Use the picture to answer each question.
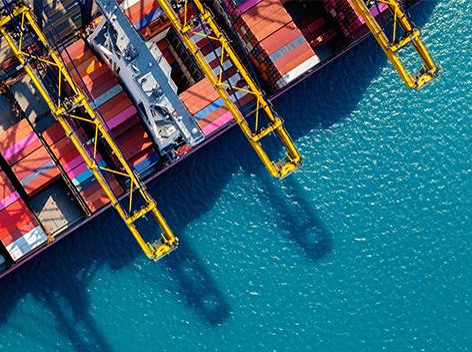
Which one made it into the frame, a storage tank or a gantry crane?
gantry crane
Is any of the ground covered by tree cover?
No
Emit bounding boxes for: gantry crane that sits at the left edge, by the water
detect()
[0,0,178,257]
